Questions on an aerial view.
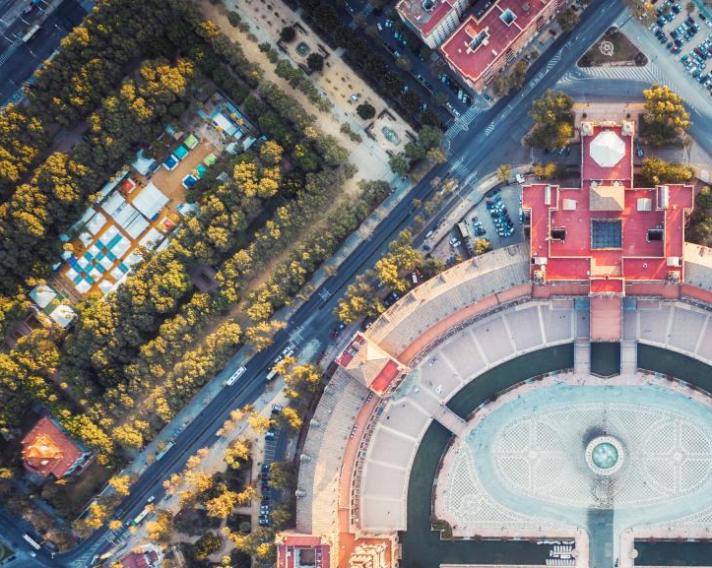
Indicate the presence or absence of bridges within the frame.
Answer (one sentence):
Yes, looking at the shot, I can spot a bridge.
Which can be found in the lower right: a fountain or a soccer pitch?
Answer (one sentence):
You can see a fountain in the lower right.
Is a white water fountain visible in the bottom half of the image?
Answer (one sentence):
Yes, a white water fountain is visible in the bottom half of the image.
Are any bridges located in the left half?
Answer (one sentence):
No, there's no bridge to be seen in the left half.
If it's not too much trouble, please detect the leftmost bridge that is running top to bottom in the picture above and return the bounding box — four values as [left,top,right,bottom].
[575,337,591,371]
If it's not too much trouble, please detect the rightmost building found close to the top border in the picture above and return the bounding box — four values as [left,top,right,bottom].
[440,0,568,92]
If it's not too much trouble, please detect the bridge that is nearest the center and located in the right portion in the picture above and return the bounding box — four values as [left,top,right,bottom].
[430,401,469,438]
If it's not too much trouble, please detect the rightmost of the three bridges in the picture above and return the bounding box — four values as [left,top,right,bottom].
[621,337,637,371]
